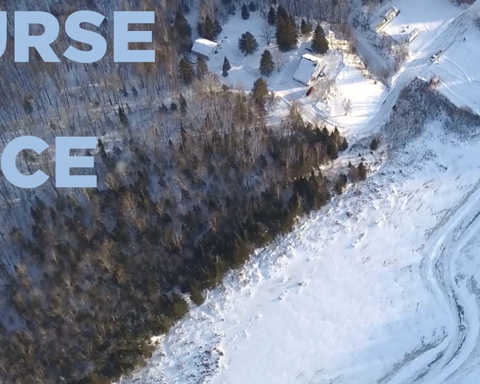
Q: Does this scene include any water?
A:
Yes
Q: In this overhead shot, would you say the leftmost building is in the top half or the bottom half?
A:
top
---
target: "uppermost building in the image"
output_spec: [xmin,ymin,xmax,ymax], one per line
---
[194,39,219,60]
